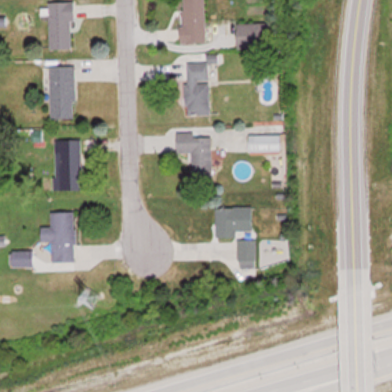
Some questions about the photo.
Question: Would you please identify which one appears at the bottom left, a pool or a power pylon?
power pylon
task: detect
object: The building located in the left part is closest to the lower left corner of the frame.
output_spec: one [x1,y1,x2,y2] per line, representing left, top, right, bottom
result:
[8,250,32,268]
